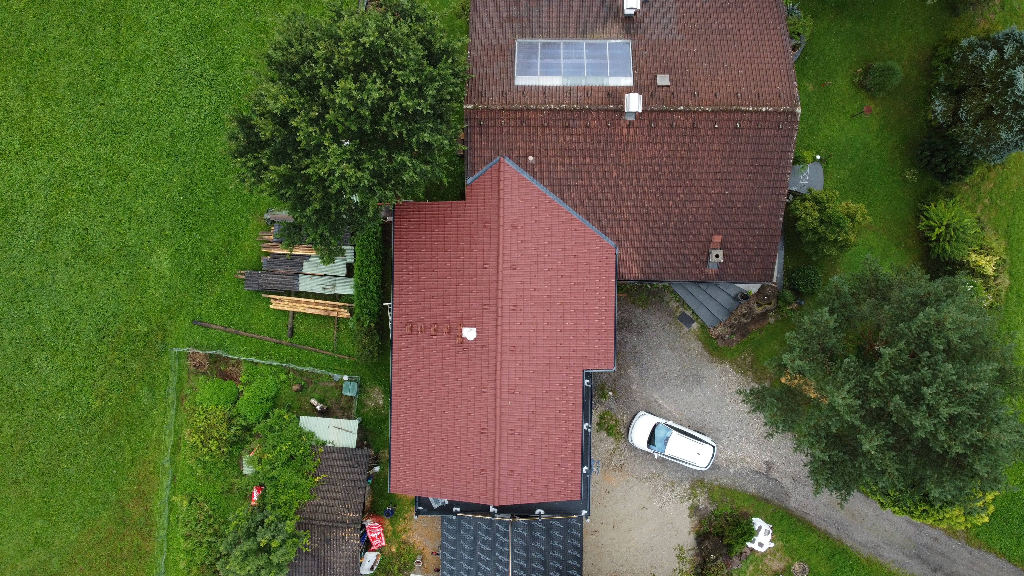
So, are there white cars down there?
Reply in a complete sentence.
Yes, there's a white car down there.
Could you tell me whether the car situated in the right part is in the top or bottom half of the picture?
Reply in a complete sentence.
You can find the car situated in the right part in the bottom half.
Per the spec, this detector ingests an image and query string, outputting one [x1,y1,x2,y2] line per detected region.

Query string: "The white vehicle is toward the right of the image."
[625,409,720,472]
